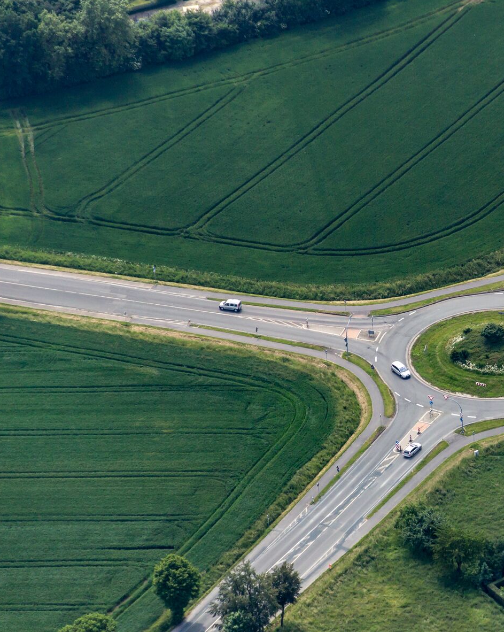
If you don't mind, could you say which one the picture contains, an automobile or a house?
automobile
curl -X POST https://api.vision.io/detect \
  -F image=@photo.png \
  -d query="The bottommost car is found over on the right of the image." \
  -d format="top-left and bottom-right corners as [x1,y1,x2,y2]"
[402,442,423,460]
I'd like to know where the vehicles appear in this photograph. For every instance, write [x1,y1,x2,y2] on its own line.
[391,361,410,379]
[402,442,423,460]
[219,301,242,313]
